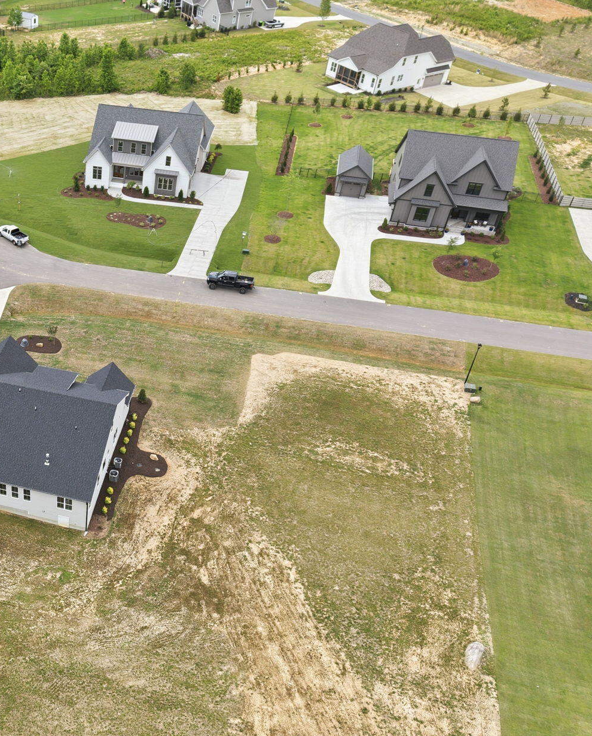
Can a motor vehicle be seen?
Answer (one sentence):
Yes, there's a motor vehicle down there.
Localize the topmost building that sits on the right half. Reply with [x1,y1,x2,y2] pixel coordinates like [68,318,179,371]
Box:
[325,23,459,93]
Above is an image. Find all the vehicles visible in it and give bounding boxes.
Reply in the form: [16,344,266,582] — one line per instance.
[205,270,258,296]
[264,18,286,28]
[0,225,32,247]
